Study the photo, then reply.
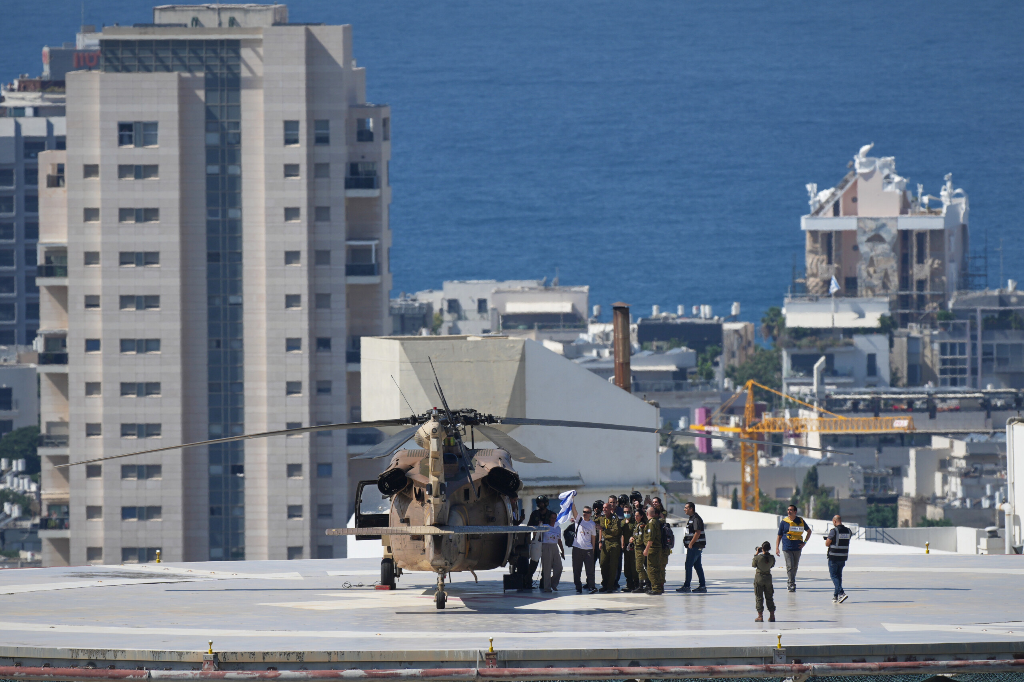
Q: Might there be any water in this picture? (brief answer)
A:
Yes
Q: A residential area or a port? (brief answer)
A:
residential area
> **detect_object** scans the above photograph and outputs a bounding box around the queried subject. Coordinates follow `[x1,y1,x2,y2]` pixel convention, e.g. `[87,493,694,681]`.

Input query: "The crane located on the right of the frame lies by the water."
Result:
[690,383,920,508]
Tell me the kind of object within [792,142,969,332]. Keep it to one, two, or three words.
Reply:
house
